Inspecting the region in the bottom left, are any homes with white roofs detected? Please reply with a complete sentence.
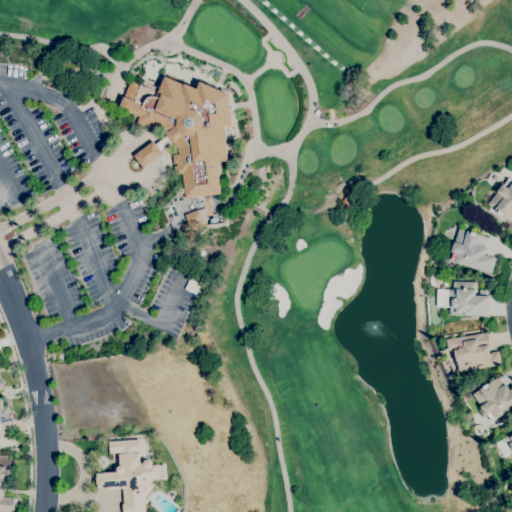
Yes, looking in the bottom left, one can make out a home with a white roof.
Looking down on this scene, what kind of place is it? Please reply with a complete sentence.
The picture captures a golf course.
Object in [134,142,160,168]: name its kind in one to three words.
building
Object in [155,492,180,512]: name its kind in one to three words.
swimming pool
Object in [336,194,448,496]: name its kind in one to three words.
pond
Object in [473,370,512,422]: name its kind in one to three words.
house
